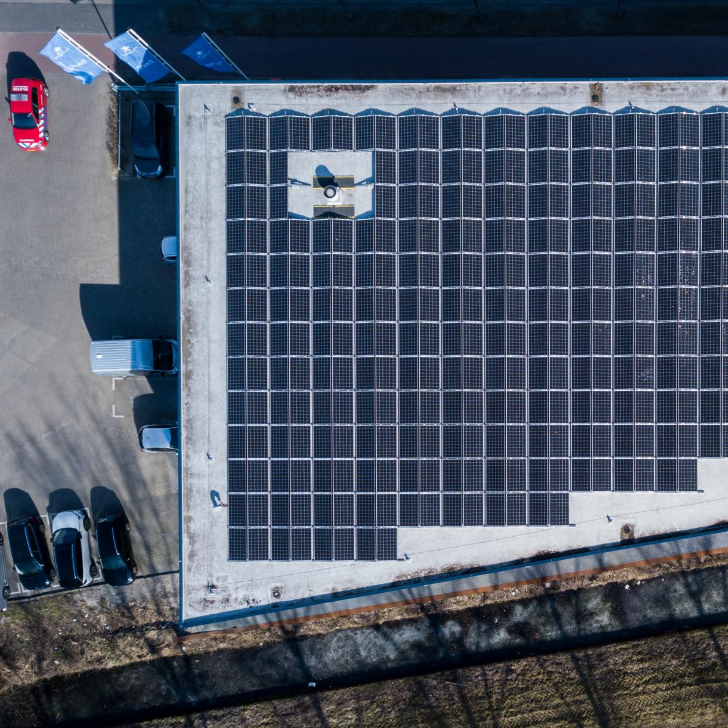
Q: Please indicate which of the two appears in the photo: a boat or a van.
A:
van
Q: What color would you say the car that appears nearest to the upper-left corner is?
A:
red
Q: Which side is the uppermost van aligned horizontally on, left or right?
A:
left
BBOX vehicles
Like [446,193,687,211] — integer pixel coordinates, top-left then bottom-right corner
[48,510,98,588]
[4,513,56,593]
[129,103,172,180]
[164,234,178,266]
[2,76,49,151]
[93,338,179,376]
[0,539,11,608]
[92,512,141,588]
[143,425,179,453]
